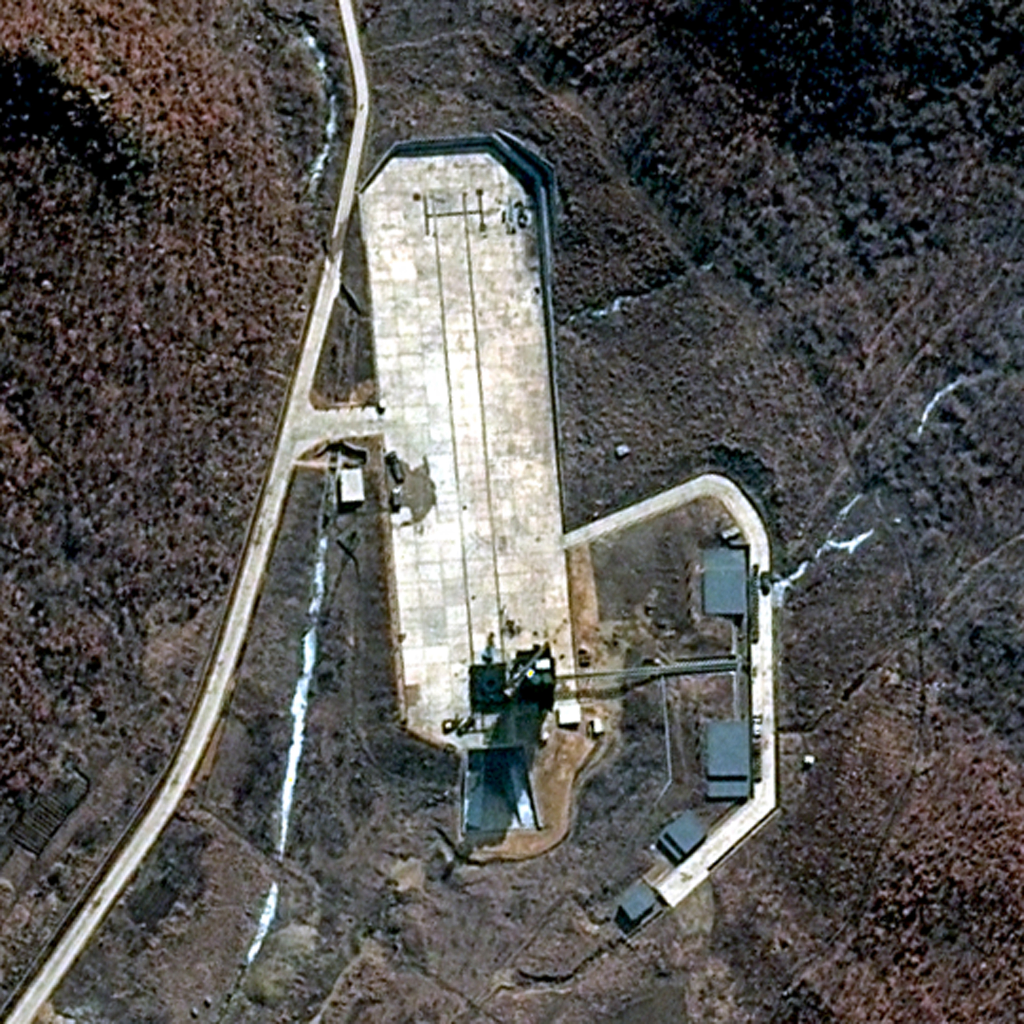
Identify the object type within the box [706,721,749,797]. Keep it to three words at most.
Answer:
building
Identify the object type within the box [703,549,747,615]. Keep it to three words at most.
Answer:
building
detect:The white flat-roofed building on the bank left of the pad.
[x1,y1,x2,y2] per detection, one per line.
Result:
[341,469,365,504]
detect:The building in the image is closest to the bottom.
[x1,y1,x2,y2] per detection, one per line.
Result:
[620,880,655,921]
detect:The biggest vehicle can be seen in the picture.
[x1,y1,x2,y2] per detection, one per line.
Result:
[385,450,405,481]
